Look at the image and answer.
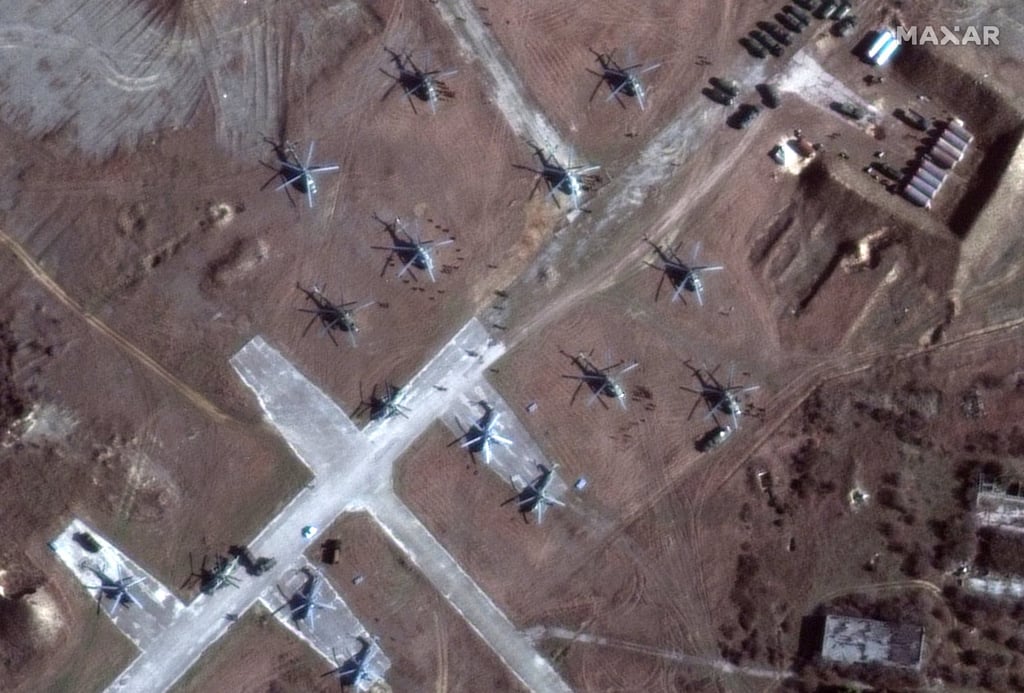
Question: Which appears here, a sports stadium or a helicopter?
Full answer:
The one in the frame is a helicopter.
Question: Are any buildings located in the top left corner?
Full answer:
No, I see no building in the top left corner.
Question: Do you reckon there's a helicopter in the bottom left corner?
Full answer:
Yes, a helicopter can be seen in the bottom left corner.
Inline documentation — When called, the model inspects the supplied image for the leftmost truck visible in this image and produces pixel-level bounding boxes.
[79,534,104,555]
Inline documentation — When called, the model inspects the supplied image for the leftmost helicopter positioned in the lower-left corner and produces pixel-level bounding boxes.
[94,561,147,614]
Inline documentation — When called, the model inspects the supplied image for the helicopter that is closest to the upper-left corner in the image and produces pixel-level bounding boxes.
[275,138,338,206]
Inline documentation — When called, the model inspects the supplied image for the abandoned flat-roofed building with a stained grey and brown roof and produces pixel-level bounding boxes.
[823,615,923,669]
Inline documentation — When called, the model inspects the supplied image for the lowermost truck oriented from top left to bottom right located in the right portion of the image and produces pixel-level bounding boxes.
[876,161,906,184]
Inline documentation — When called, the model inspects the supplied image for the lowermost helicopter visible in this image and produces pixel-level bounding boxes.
[334,638,387,693]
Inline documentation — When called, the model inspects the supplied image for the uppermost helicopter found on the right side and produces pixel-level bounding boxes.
[598,44,663,107]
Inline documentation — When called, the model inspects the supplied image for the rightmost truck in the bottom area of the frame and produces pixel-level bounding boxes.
[703,426,730,449]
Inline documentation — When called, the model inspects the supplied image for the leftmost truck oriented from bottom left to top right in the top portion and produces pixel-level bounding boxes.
[737,105,760,126]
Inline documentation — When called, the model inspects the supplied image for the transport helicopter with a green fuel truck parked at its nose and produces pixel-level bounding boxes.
[697,360,762,428]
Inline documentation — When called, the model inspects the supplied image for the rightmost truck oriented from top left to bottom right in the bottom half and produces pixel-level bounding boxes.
[234,546,260,568]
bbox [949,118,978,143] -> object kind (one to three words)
tent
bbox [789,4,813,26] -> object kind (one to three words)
truck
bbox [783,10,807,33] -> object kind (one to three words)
truck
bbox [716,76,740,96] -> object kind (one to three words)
vehicle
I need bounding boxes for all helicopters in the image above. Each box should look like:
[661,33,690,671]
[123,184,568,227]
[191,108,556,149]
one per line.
[575,347,641,410]
[388,212,454,277]
[462,401,515,463]
[309,281,374,344]
[285,565,339,632]
[94,561,147,614]
[366,380,409,422]
[275,138,338,206]
[662,239,727,306]
[394,41,459,111]
[334,638,387,693]
[515,463,568,524]
[697,360,762,428]
[598,44,663,107]
[538,135,603,204]
[196,552,240,594]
